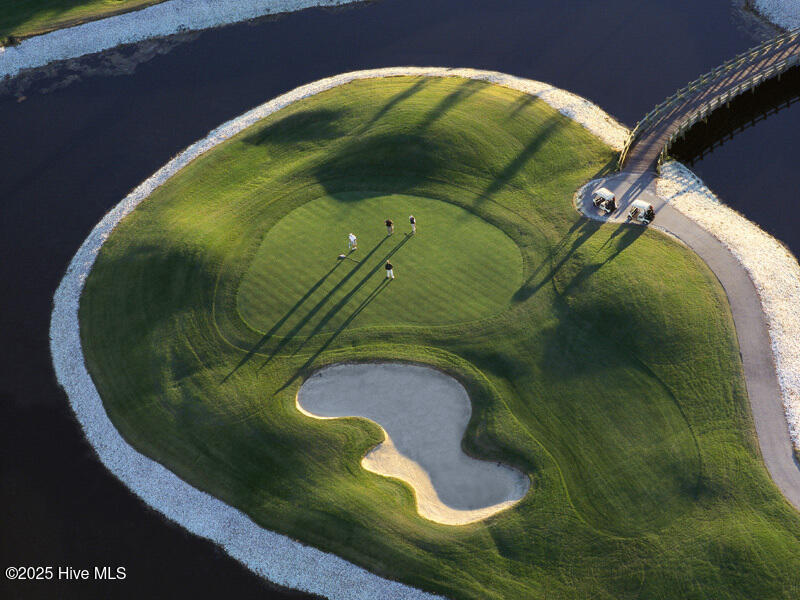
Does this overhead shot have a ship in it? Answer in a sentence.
No, the picture doesn't show any ship.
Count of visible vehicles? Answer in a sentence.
Altogether the scene contains 2 vehicles.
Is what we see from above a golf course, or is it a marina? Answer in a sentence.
The picture captures a golf course.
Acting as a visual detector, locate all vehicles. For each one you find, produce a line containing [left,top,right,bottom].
[627,200,653,224]
[591,188,617,212]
